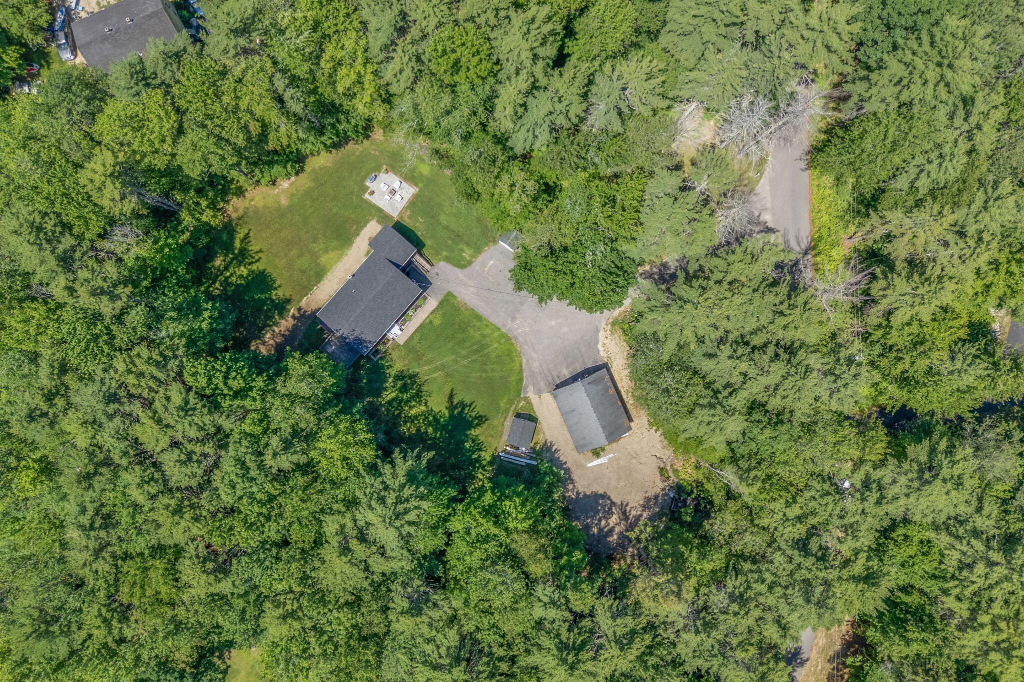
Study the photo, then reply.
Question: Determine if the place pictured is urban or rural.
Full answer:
The area shown here is rural.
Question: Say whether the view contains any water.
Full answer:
No, the picture contains no water.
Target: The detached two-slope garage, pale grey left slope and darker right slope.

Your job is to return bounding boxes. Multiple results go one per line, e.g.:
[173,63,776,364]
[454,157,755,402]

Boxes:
[553,368,632,453]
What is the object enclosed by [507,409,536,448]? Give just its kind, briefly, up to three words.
shed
